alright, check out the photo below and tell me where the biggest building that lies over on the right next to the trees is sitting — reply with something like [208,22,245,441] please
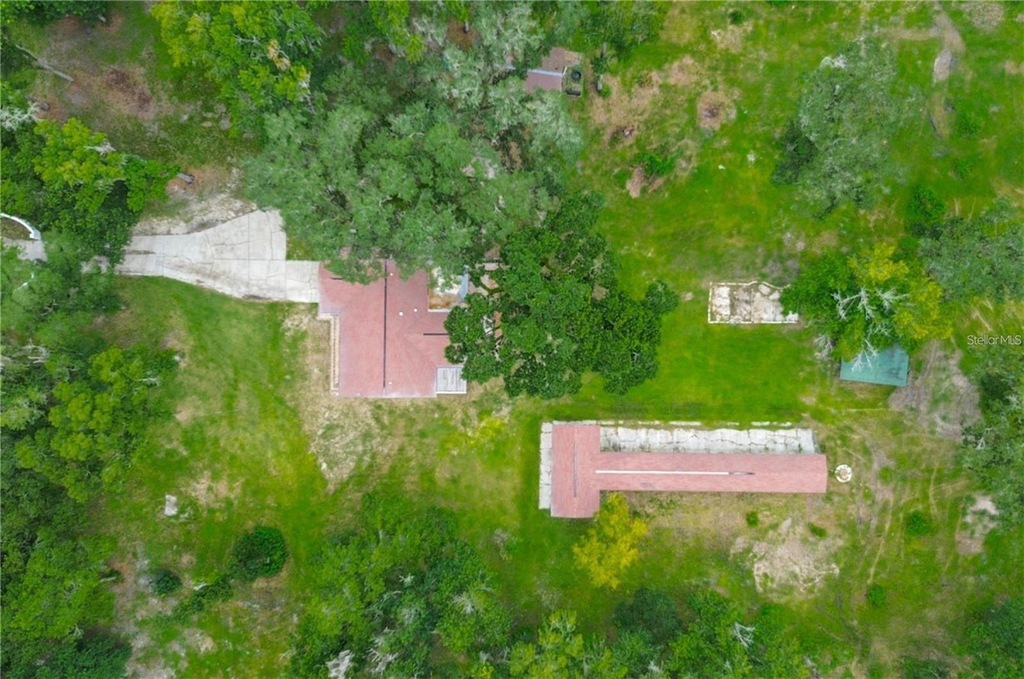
[551,424,828,518]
